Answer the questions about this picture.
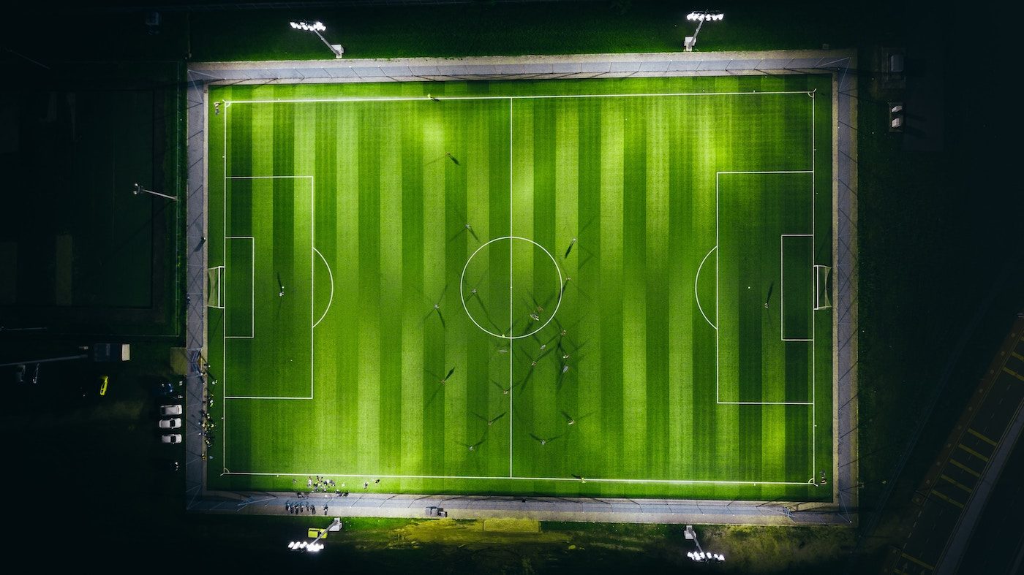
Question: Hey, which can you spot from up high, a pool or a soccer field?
soccer field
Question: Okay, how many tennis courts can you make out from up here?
0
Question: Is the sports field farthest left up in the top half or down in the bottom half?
top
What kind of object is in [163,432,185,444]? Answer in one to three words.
vehicle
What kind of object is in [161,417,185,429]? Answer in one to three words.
vehicle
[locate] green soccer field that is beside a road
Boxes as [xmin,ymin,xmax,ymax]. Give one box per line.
[207,73,833,502]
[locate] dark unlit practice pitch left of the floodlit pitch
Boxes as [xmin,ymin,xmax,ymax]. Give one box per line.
[0,78,165,319]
